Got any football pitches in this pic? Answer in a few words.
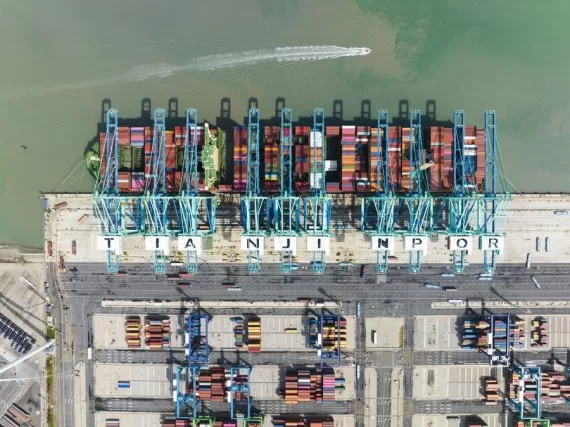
No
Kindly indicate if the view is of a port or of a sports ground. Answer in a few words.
port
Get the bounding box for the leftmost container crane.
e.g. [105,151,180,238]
[89,107,150,274]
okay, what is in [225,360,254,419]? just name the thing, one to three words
container crane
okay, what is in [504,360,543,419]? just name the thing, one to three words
container crane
